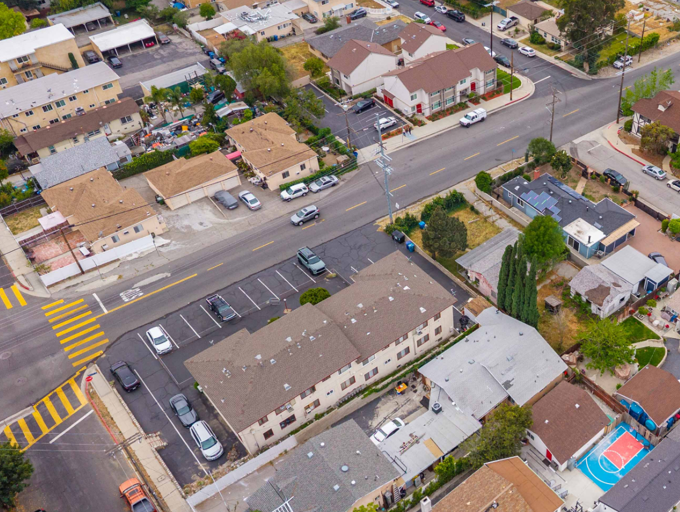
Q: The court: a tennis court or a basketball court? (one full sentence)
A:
The court can be classified as a basketball court.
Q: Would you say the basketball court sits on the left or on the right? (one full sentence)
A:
You can find the basketball court on the right side of the picture.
